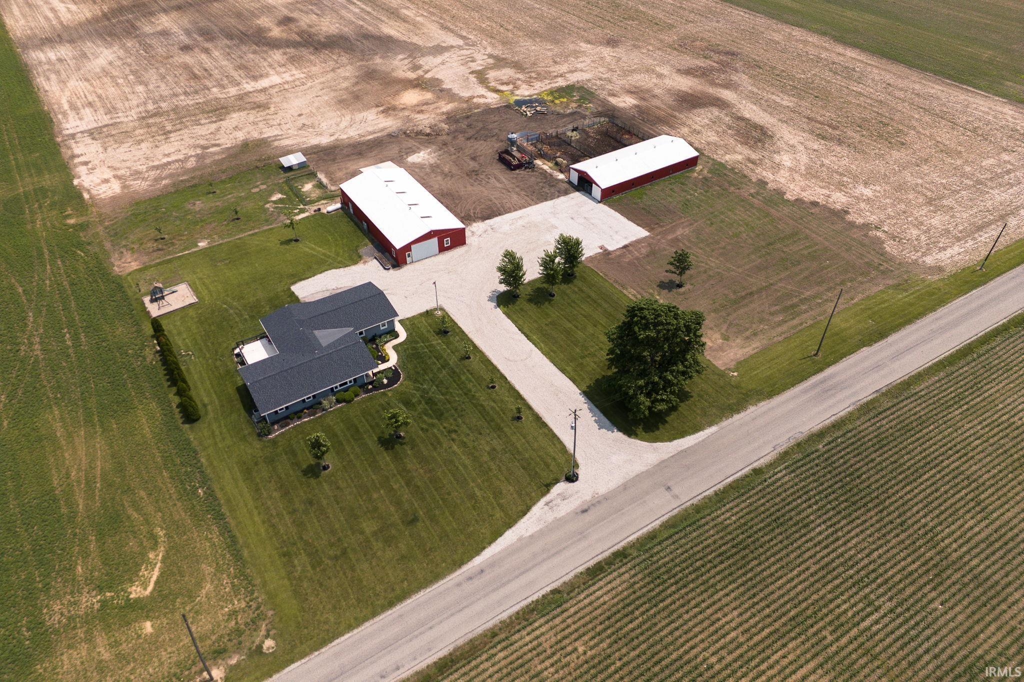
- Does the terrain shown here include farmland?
Yes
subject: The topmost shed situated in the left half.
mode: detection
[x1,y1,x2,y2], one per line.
[278,150,308,171]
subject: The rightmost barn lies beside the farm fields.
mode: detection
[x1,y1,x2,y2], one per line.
[569,135,700,202]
